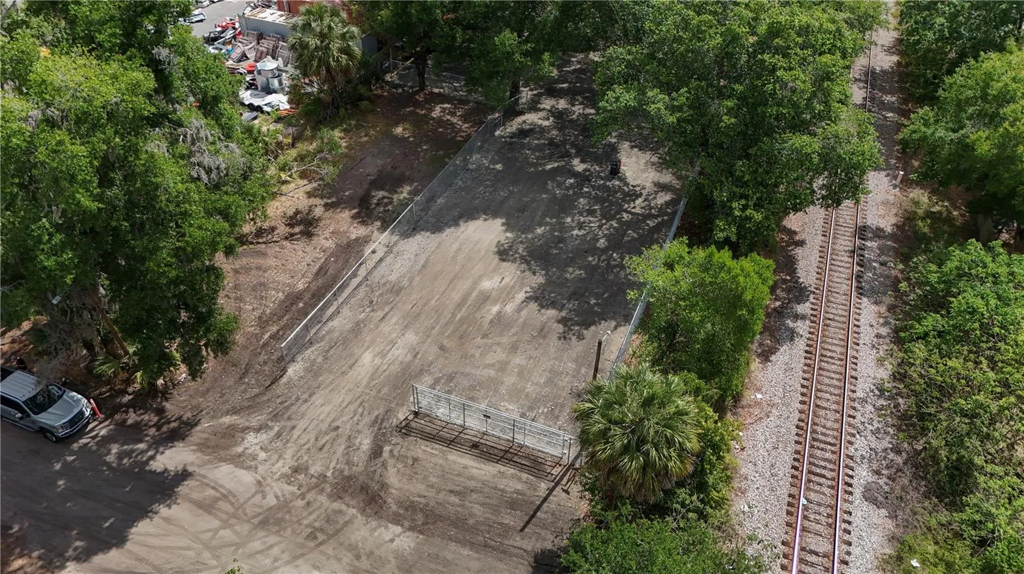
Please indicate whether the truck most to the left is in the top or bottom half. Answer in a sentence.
The bottom half of the photo is where the truck most to the left is.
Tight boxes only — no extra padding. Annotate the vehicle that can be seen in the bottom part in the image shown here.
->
[0,359,94,444]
